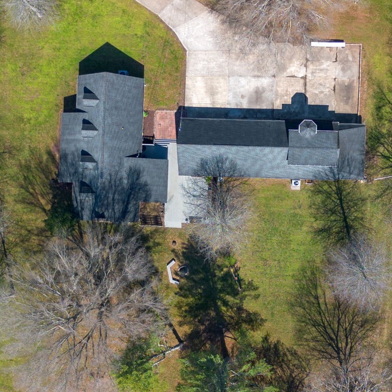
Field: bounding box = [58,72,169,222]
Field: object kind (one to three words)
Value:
house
